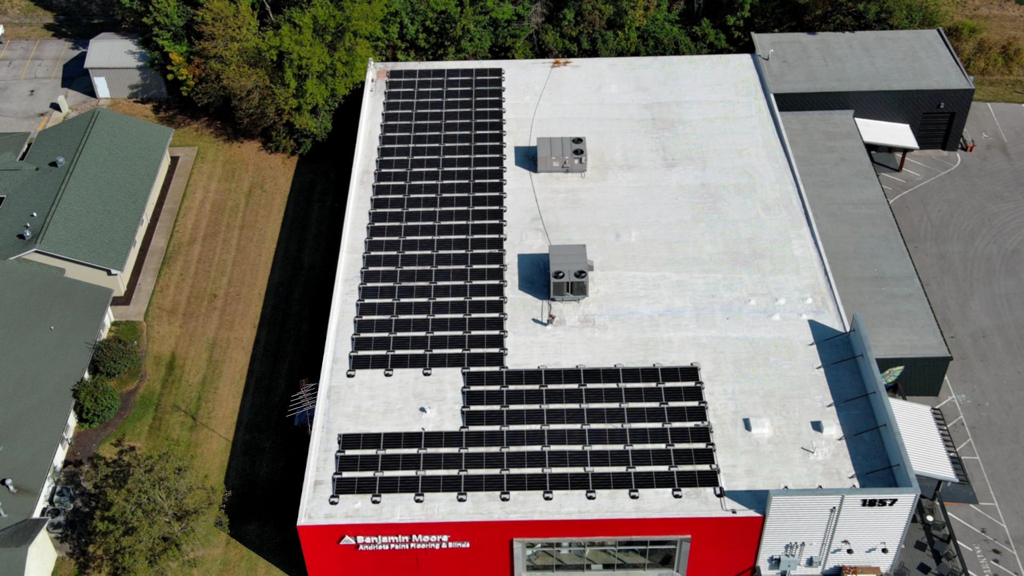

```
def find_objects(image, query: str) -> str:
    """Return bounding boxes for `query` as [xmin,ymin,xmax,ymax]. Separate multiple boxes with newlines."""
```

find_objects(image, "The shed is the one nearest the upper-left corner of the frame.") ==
[83,31,178,98]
